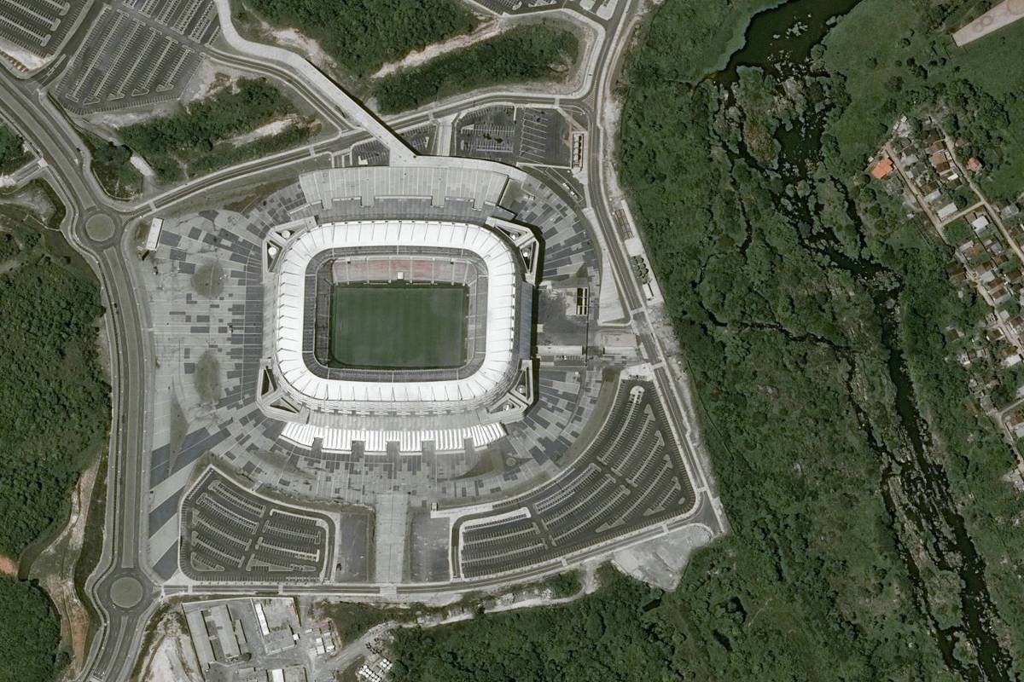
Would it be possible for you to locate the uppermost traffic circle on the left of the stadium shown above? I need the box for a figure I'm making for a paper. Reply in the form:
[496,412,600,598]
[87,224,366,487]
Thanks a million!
[77,204,125,250]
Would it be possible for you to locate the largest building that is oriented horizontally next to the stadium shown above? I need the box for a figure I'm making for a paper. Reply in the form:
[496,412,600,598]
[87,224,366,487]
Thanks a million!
[538,345,582,357]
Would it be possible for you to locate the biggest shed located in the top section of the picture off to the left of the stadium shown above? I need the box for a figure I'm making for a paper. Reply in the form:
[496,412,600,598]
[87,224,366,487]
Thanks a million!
[147,218,164,251]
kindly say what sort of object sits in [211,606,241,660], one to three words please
building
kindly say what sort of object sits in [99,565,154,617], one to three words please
roundabout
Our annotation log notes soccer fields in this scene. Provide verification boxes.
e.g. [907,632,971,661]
[330,285,471,370]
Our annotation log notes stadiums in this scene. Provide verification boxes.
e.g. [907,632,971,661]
[257,166,541,456]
